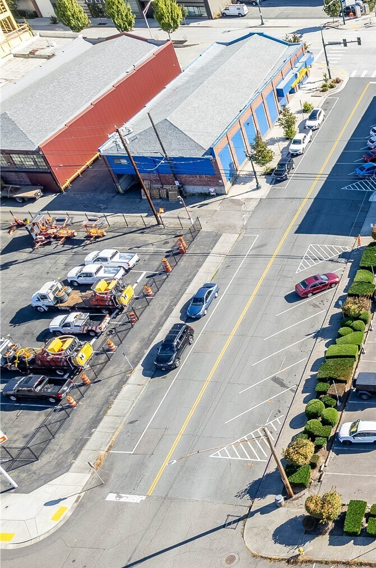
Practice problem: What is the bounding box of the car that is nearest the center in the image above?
[187,284,220,319]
